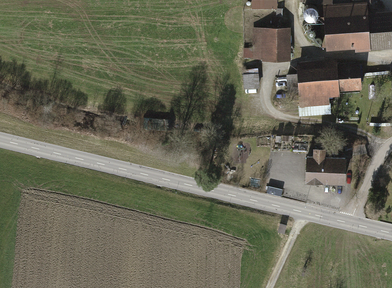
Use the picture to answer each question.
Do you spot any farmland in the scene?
Yes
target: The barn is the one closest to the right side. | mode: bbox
[370,8,392,50]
